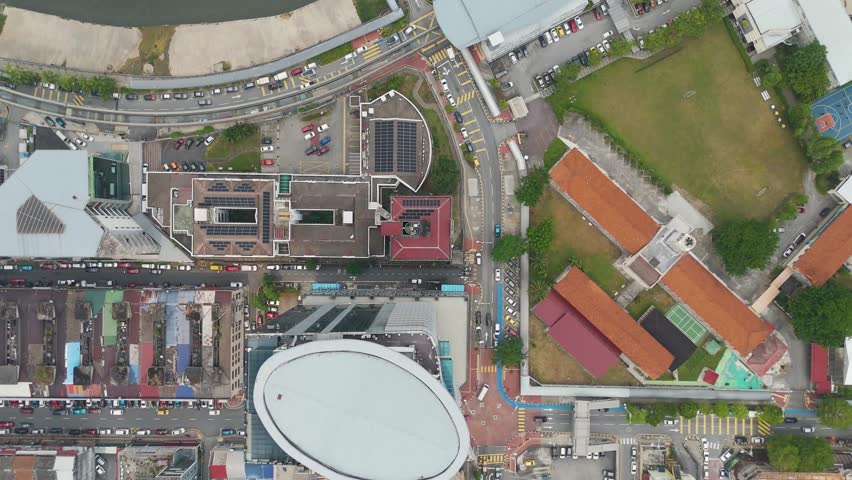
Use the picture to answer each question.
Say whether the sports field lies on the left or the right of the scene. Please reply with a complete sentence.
You can find the sports field on the right side of the picture.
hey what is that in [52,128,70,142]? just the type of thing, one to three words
vehicle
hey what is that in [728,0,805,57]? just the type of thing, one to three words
building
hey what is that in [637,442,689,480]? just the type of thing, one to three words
building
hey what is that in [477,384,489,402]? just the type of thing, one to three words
vehicle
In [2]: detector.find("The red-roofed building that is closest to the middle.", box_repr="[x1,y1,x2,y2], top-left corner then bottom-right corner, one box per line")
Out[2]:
[381,195,452,261]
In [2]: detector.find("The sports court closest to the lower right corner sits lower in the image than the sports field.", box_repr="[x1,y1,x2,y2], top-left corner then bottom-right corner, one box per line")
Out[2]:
[665,303,708,344]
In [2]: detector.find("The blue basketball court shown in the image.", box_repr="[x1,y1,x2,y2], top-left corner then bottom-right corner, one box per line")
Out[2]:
[810,83,852,141]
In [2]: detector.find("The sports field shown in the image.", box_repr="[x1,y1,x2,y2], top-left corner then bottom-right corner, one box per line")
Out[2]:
[558,20,806,224]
